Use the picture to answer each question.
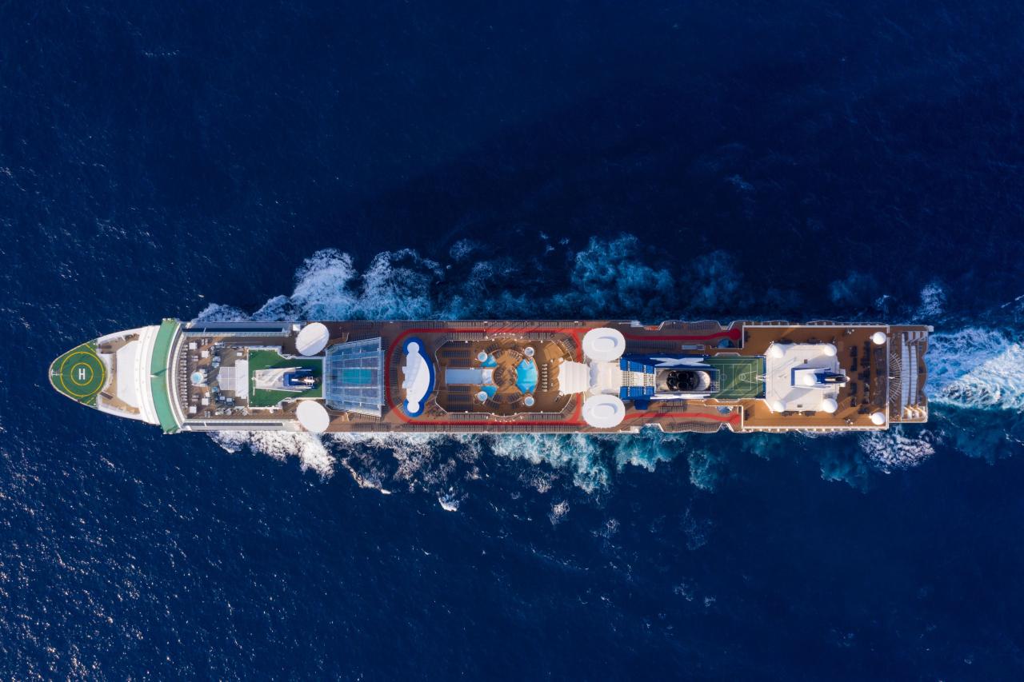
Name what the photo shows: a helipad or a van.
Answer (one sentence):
Looking from above, you can make out a helipad.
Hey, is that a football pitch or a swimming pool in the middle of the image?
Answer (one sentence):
The one visible in the middle of the image is a swimming pool.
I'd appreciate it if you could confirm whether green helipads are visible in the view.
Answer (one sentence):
Yes, a green helipad appears in the view.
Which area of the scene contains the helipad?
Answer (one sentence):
Look in the left portion of the view to spot the helipad.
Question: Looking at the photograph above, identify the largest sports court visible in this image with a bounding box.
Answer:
[705,352,764,402]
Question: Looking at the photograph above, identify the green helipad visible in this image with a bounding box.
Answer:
[50,338,107,409]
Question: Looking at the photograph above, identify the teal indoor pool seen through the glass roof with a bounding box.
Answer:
[342,368,372,386]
